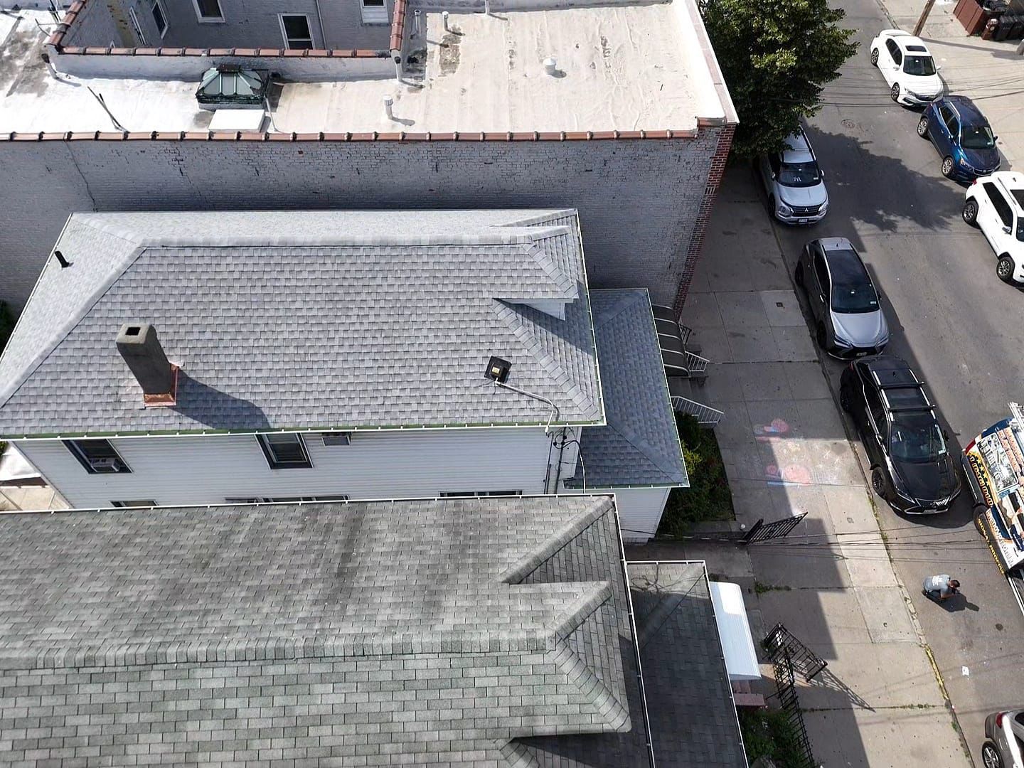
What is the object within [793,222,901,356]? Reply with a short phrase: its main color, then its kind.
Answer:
black car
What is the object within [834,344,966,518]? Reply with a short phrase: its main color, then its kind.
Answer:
black car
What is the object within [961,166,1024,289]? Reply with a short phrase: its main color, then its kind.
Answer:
white car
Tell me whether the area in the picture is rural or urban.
urban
